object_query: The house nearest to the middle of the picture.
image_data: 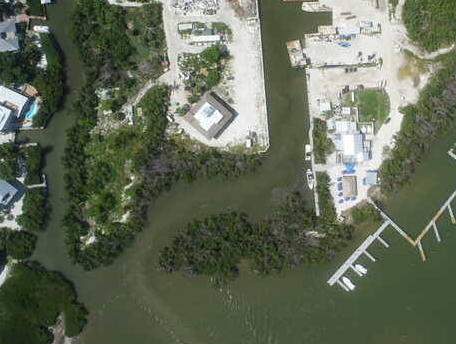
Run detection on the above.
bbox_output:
[184,92,234,138]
